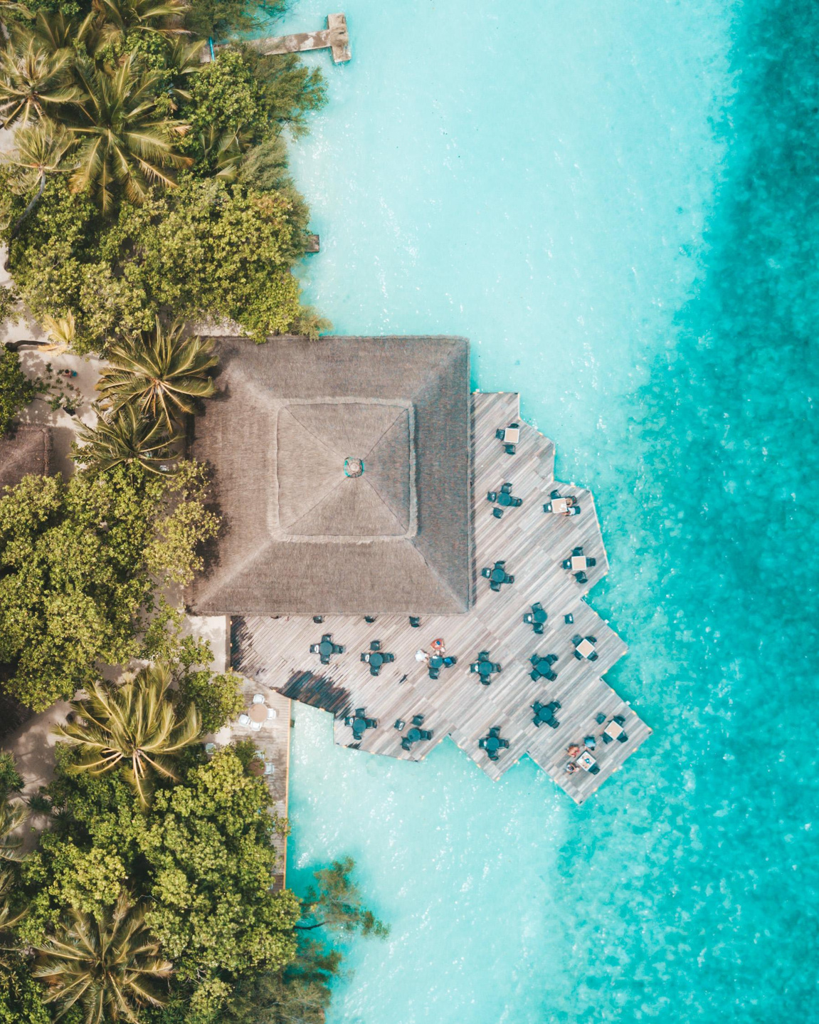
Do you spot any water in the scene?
Yes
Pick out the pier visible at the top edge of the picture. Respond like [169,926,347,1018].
[194,13,351,68]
